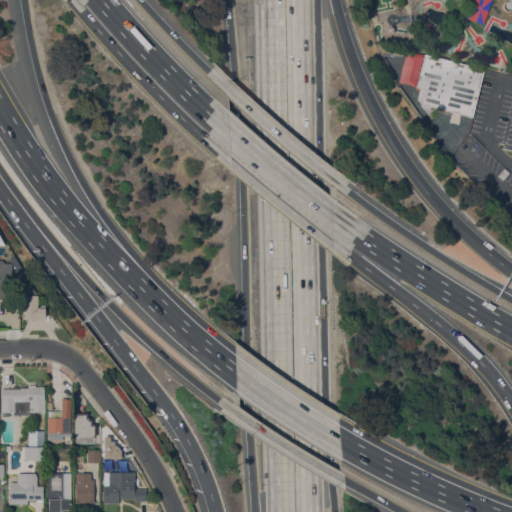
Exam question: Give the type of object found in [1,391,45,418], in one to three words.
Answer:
house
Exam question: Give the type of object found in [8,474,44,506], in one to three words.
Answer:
house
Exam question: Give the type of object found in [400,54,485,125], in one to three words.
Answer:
building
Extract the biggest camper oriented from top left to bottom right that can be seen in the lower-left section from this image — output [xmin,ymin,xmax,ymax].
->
[103,407,119,424]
